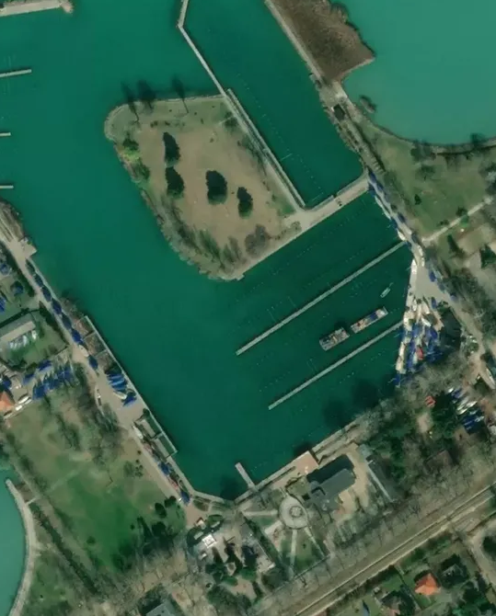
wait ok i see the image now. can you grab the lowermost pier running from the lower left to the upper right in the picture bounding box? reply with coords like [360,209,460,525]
[268,321,401,410]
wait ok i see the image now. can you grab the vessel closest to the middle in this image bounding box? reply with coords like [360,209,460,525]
[320,323,350,347]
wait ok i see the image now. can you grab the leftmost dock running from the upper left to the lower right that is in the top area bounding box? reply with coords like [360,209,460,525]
[179,25,228,98]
